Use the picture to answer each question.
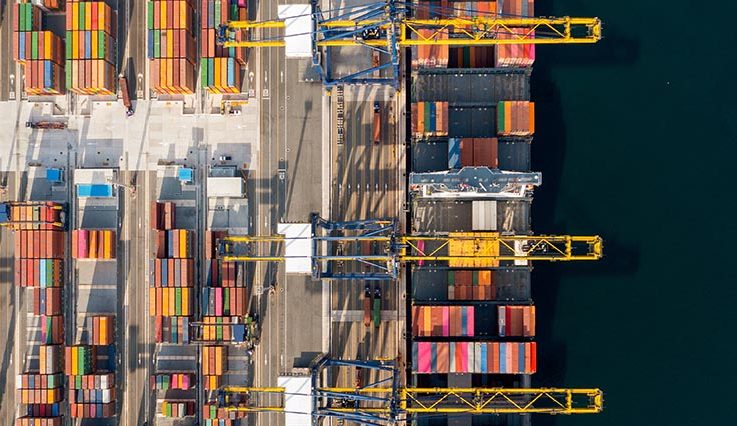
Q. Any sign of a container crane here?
Yes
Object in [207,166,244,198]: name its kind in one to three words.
shed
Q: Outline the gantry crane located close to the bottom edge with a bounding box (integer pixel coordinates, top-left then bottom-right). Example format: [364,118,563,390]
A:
[216,349,606,426]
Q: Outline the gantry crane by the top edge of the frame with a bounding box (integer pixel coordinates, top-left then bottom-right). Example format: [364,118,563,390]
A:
[216,0,606,99]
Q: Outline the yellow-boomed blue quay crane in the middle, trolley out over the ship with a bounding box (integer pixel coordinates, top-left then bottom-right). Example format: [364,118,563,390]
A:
[216,214,606,286]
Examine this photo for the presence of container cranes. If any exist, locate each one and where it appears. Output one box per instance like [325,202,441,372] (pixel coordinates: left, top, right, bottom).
[216,214,606,286]
[216,349,606,426]
[216,0,606,99]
